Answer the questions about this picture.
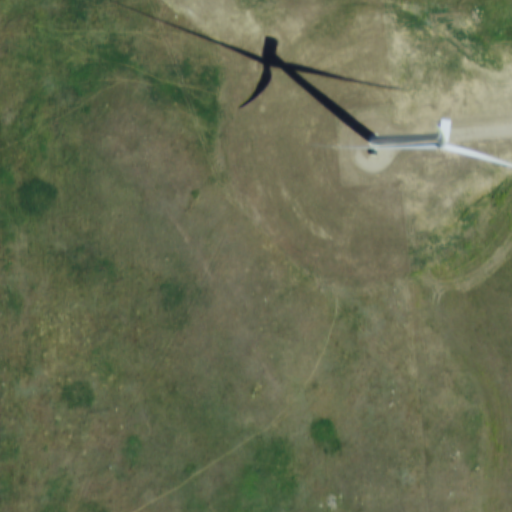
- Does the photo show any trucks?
No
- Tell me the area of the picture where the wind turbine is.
top right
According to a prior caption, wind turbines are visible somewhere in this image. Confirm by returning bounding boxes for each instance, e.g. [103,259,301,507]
[320,114,512,165]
